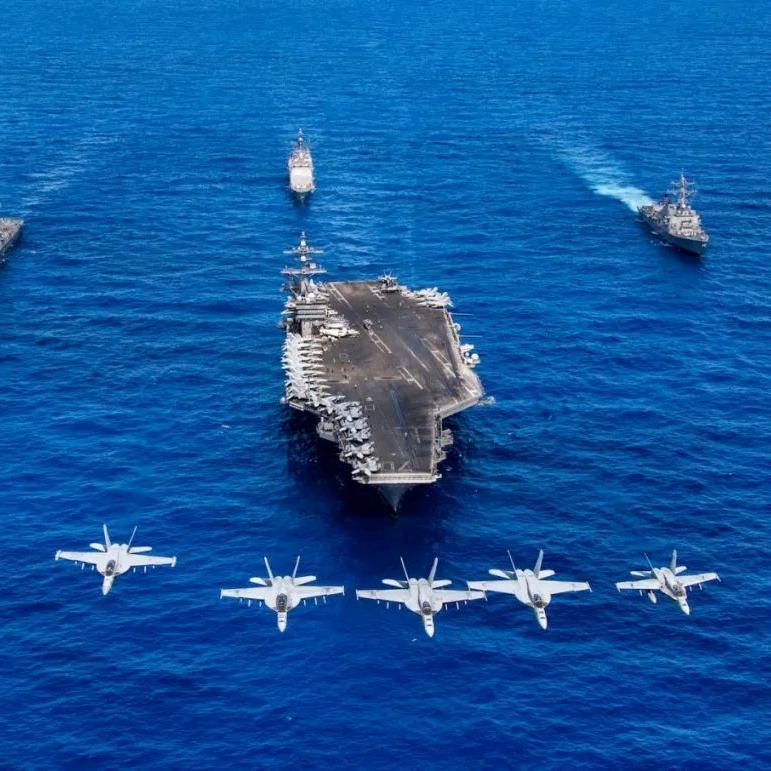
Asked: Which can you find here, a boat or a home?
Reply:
boat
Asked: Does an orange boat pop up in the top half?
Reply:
No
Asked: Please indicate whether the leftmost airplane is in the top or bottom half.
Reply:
bottom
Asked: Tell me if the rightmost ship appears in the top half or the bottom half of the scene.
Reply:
top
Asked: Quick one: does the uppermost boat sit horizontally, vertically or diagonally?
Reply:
vertically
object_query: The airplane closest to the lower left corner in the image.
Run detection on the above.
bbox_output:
[56,521,175,595]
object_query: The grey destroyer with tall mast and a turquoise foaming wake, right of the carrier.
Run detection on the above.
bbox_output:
[644,166,710,258]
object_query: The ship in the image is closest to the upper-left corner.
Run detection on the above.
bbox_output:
[0,218,23,256]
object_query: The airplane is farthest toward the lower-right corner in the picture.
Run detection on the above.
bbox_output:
[615,547,721,616]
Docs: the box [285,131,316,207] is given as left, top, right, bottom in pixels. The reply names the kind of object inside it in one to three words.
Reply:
boat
